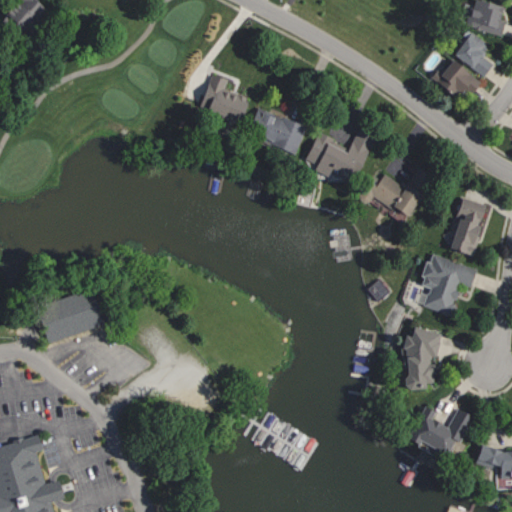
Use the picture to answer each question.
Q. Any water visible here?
Yes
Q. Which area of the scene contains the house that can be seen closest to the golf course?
top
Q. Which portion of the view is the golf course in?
top left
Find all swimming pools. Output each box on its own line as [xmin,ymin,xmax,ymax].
[409,286,419,300]
[424,51,442,71]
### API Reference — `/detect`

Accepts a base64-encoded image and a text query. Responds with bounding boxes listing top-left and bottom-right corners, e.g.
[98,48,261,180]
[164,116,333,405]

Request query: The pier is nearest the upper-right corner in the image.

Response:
[337,233,362,262]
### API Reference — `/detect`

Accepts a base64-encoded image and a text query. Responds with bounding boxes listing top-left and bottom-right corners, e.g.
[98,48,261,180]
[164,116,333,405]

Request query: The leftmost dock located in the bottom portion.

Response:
[242,408,318,468]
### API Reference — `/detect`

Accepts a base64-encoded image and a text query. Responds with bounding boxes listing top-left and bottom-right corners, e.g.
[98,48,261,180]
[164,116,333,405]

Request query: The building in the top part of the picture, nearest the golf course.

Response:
[197,74,250,118]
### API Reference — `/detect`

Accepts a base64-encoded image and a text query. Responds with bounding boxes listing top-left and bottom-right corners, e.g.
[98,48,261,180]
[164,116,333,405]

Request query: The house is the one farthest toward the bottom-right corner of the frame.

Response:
[477,446,512,482]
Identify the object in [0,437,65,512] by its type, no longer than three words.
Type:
building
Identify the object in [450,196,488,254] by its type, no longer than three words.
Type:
house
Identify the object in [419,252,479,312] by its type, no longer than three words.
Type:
house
